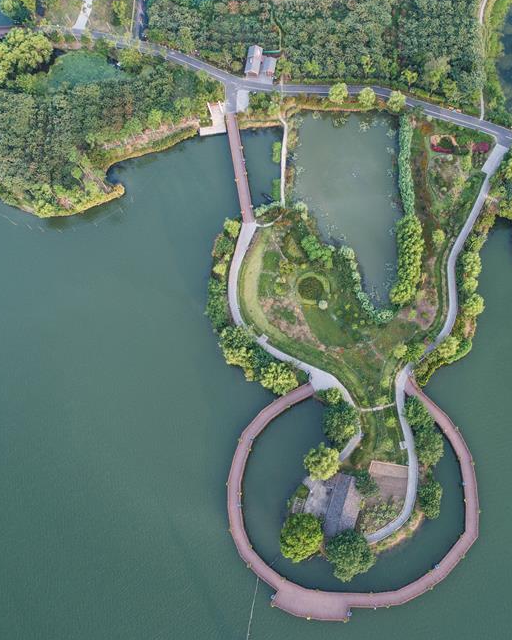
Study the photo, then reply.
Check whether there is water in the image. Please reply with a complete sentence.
Yes, the picture does contain water.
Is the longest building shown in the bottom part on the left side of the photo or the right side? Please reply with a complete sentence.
It is on the right.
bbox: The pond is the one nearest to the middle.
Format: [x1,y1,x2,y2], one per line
[289,110,401,304]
